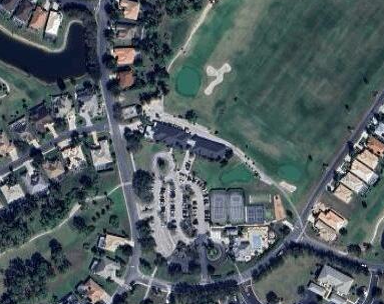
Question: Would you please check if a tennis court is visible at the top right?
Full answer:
No, there's no tennis court to be seen at the top right.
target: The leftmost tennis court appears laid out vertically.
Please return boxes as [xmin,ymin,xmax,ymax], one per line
[210,189,227,224]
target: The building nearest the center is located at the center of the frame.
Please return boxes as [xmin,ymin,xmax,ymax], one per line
[152,122,235,164]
